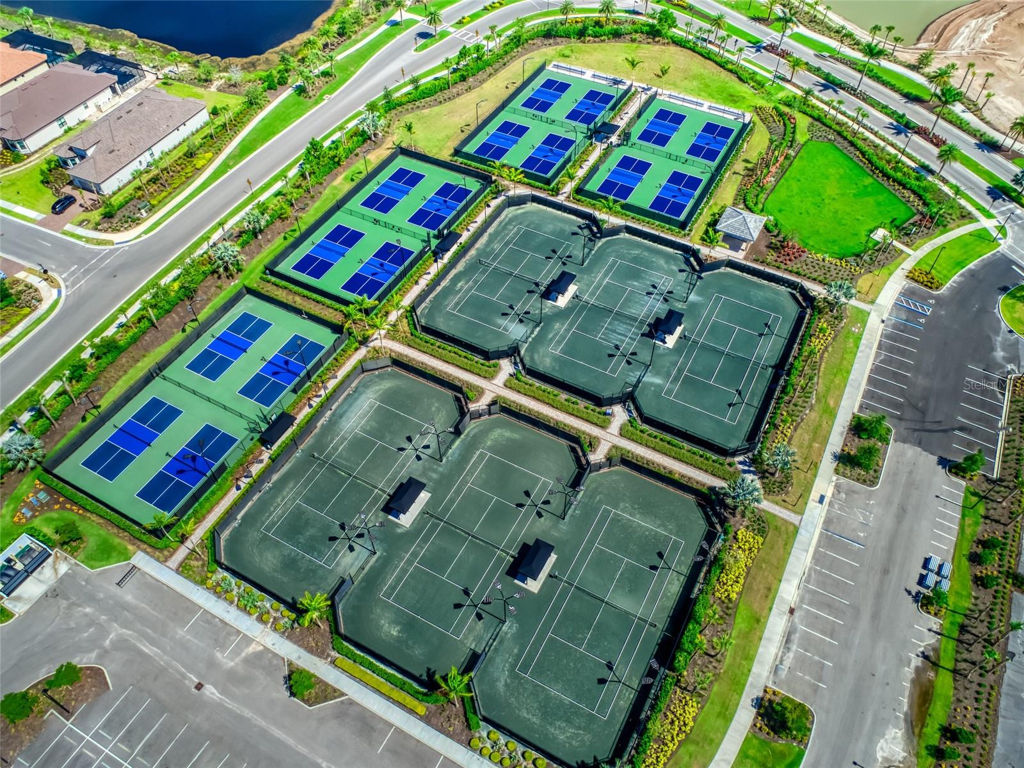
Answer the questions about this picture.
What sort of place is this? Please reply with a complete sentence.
What you see here is a sports ground.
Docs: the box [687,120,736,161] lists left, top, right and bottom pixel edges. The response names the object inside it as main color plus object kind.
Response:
blue sports court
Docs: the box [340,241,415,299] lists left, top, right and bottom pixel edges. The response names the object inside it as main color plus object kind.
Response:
blue sports court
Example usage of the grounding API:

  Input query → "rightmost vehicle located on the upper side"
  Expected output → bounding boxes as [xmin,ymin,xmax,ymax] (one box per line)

[51,198,78,216]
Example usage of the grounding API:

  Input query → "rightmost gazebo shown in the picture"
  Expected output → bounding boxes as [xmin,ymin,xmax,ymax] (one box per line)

[713,205,767,254]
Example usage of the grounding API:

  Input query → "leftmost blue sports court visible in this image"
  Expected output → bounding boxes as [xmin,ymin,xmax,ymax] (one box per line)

[80,395,183,481]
